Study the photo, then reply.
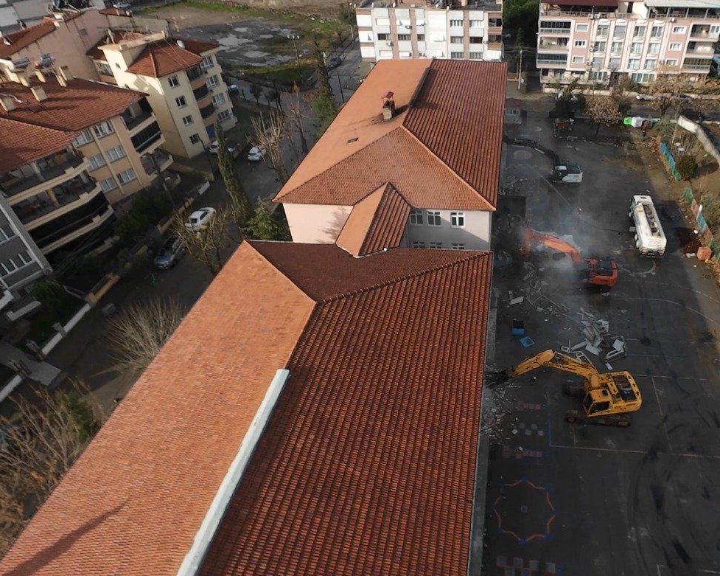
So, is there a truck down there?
Yes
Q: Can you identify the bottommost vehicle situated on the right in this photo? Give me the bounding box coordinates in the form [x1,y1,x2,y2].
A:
[494,351,646,425]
